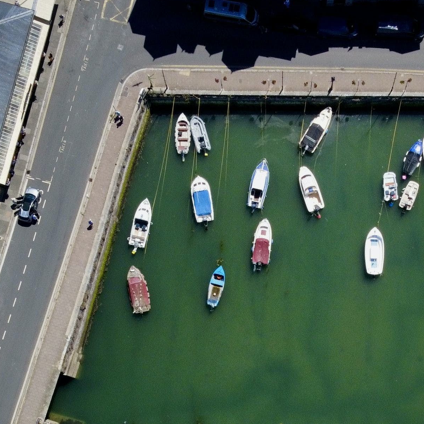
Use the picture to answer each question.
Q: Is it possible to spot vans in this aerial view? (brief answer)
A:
Yes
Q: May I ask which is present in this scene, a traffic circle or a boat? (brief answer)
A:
boat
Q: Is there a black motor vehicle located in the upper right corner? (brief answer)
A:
Yes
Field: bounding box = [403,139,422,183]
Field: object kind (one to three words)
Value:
boat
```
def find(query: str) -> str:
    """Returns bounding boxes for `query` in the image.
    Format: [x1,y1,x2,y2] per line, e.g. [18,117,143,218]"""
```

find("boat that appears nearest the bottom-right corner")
[365,227,384,283]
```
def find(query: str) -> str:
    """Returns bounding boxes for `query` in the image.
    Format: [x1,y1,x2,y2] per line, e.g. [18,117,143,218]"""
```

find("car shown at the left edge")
[10,186,43,223]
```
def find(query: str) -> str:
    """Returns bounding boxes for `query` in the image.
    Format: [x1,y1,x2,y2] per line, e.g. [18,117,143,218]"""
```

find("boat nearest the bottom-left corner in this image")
[127,266,150,315]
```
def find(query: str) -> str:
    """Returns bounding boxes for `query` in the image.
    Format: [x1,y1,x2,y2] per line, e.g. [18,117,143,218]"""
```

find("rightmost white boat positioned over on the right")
[399,180,419,217]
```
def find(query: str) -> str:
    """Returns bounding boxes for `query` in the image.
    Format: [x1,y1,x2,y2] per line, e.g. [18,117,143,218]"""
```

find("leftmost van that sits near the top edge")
[203,0,258,30]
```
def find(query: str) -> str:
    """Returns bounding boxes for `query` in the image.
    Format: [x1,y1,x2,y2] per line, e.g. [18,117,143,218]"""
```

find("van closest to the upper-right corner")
[375,16,423,47]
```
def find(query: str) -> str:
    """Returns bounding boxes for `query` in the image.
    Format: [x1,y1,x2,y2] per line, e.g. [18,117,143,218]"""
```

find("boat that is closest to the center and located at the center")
[191,175,214,229]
